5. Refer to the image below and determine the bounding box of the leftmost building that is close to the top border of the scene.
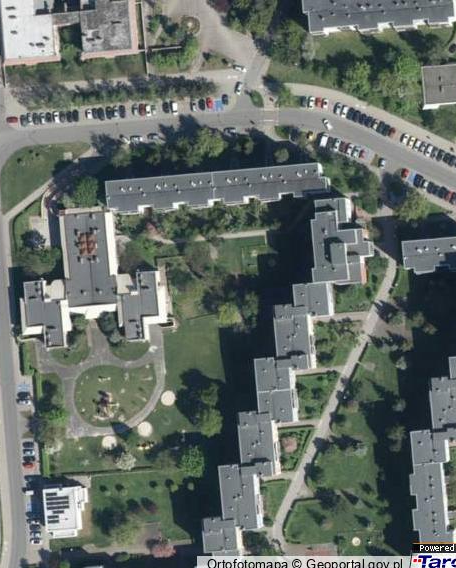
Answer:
[2,0,142,69]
